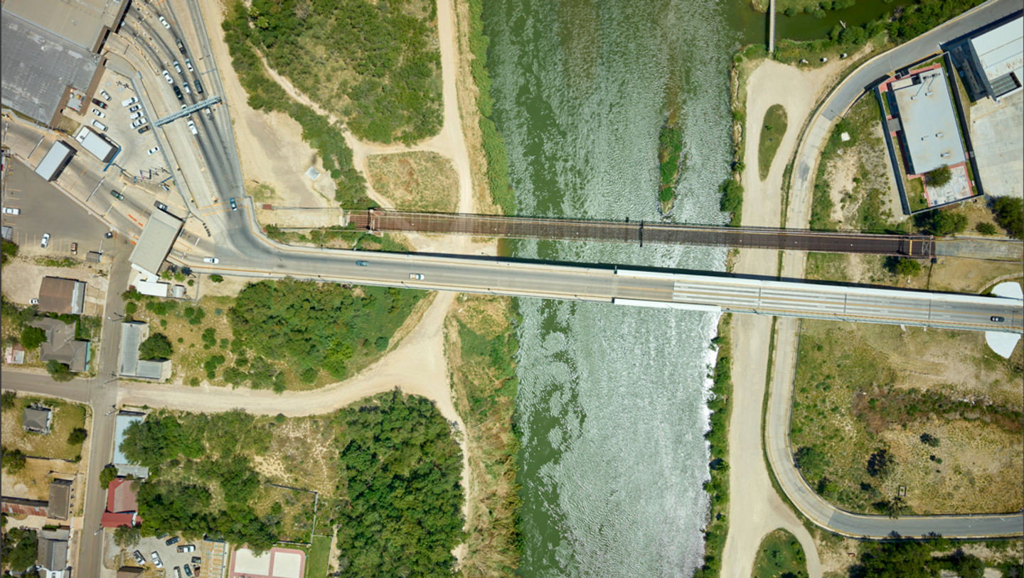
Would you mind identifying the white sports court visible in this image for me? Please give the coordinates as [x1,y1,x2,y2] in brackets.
[229,544,306,578]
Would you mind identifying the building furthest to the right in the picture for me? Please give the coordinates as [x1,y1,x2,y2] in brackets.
[957,17,1024,87]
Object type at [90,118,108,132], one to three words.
vehicle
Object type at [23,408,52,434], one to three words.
house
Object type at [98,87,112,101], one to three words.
car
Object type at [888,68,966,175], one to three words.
building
